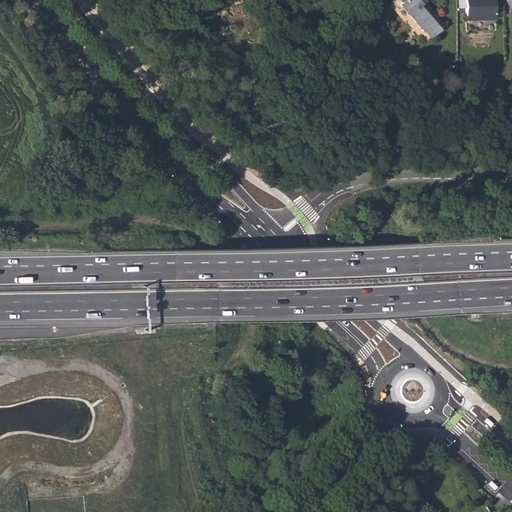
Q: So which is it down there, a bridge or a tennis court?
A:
bridge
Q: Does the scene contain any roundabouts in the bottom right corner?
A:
Yes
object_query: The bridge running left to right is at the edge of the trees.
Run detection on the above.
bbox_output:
[171,244,466,324]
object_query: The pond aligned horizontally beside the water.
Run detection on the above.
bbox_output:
[0,397,106,440]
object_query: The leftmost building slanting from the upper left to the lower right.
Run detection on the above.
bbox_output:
[399,0,444,38]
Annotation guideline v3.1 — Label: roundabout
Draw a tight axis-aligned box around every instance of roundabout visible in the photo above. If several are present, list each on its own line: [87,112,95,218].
[372,349,454,432]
